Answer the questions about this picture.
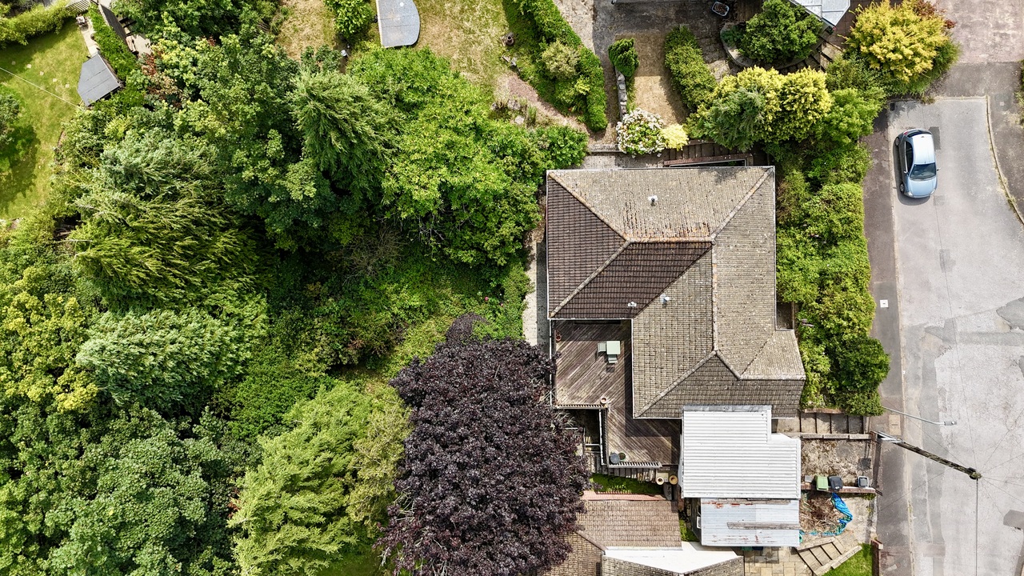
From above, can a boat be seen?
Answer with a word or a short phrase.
No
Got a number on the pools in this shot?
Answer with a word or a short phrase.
zero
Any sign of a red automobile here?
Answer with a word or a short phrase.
No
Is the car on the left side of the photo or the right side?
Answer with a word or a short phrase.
right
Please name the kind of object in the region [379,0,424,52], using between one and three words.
shed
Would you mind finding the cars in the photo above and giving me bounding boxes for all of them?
[896,130,942,198]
